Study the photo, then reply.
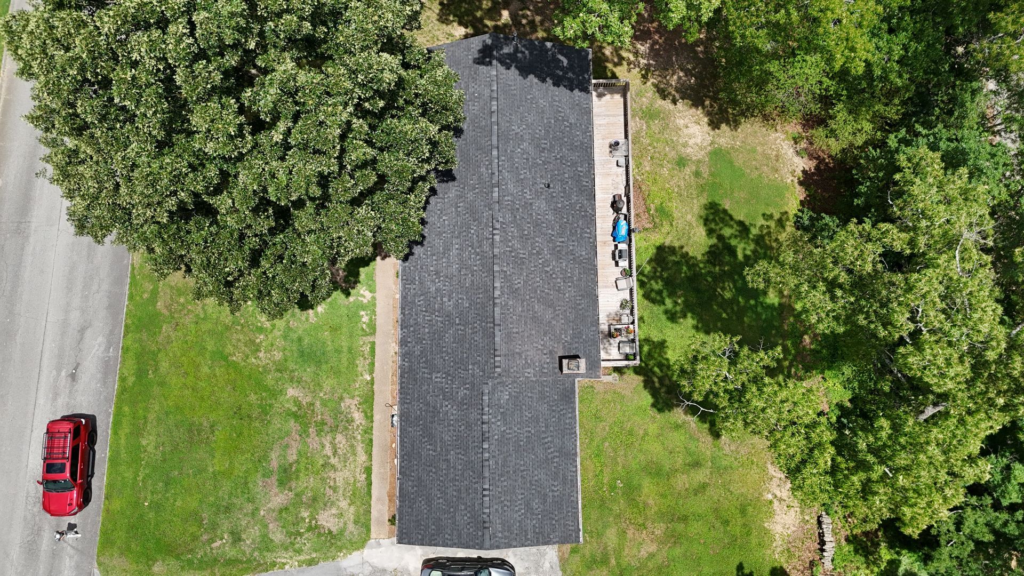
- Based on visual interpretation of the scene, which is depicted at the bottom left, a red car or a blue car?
red car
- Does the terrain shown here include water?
No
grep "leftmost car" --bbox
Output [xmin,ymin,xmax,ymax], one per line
[40,415,102,516]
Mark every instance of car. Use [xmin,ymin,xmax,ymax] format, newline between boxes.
[421,559,516,576]
[40,415,102,516]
